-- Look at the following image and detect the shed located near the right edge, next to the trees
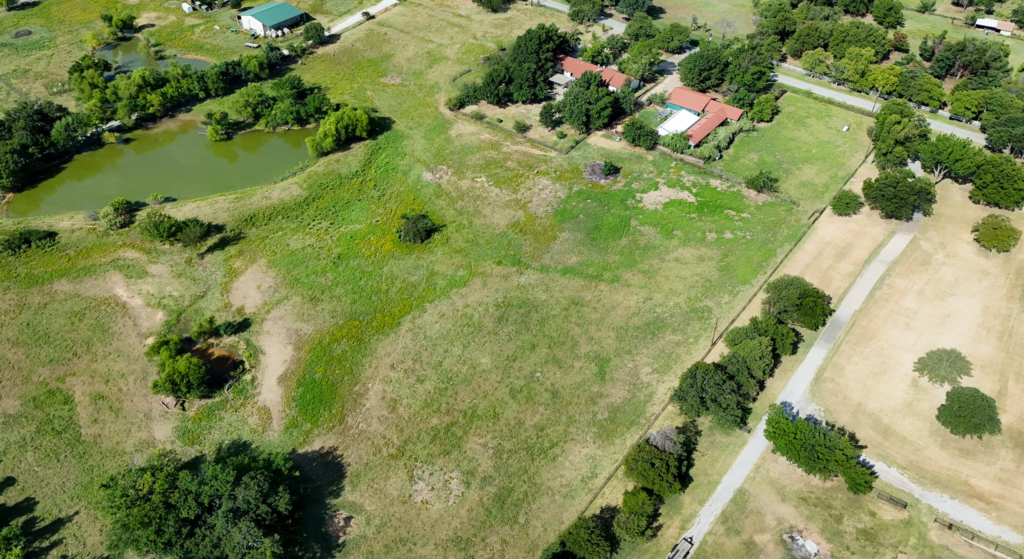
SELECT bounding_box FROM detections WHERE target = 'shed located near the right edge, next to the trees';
[976,16,1018,37]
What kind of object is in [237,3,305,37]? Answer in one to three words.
barn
